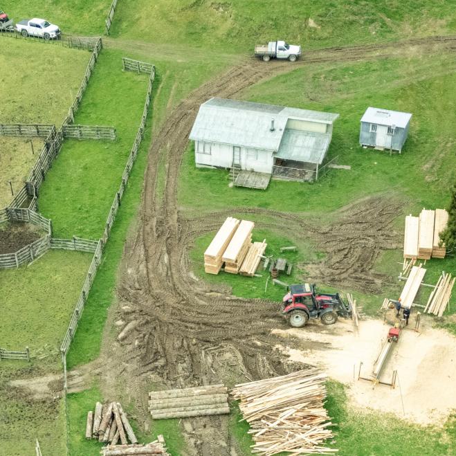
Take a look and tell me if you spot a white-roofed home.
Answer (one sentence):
Yes, a white-roofed home is visible in the scene.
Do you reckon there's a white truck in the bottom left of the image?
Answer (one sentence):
No, no white truck is visible in the bottom left of the image.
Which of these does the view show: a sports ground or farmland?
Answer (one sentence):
The area seen from above is farmland.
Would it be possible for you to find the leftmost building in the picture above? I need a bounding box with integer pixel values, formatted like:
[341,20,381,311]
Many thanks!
[189,97,333,185]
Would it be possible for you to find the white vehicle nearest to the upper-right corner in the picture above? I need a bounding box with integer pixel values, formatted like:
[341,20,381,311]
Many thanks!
[255,39,301,62]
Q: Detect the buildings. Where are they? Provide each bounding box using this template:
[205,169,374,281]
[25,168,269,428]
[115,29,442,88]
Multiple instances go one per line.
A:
[362,105,408,150]
[189,97,333,185]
